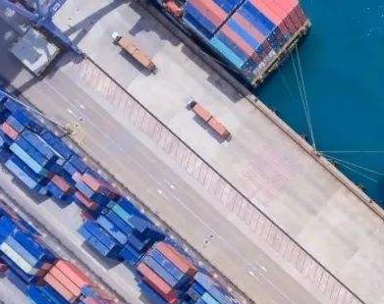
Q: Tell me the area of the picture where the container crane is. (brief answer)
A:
top left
